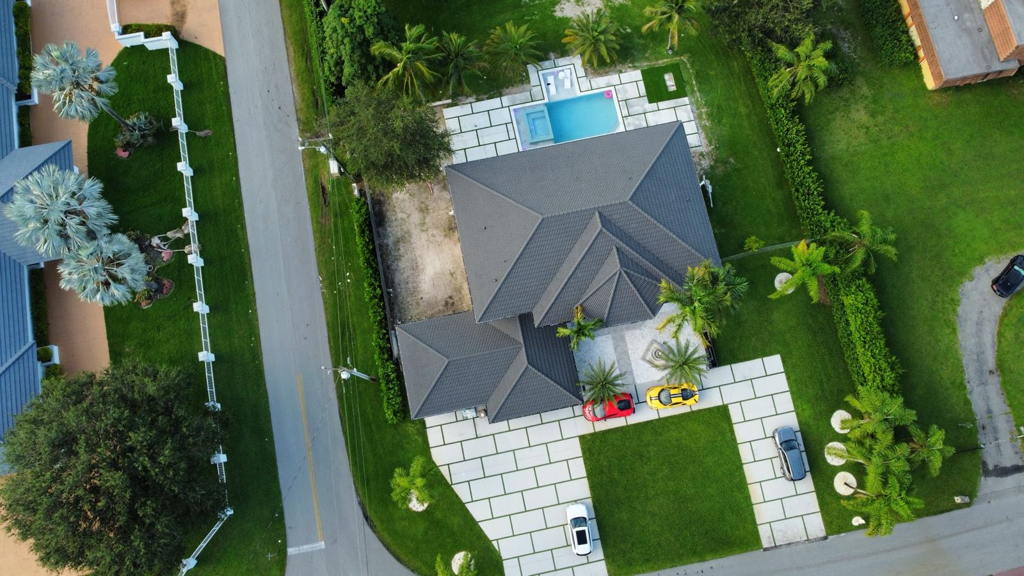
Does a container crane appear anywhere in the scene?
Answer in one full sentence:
No, the picture doesn't show any container crane.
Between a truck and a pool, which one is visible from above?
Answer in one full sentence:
Visible in the photo is a pool.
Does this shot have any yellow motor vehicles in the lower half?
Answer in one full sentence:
Yes, in the lower half there is a yellow motor vehicle.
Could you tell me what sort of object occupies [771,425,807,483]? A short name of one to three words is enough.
car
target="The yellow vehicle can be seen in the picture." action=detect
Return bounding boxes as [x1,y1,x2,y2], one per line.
[646,382,699,411]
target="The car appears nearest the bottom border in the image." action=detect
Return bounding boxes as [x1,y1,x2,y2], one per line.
[566,501,593,558]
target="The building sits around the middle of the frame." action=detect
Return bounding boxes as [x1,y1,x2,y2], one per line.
[394,119,719,425]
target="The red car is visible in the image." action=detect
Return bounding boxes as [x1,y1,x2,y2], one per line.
[583,395,635,426]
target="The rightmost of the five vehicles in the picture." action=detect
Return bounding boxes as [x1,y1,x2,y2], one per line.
[988,251,1024,298]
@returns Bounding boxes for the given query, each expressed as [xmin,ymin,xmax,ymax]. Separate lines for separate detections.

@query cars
[988,251,1024,298]
[583,395,635,426]
[646,382,699,411]
[771,425,807,483]
[566,501,593,558]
